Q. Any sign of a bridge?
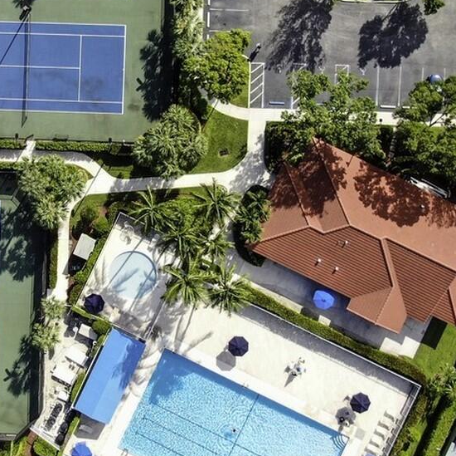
No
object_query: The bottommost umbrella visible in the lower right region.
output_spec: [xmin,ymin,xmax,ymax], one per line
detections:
[348,391,370,412]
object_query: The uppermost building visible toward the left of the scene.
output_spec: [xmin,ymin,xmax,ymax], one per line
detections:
[71,233,98,259]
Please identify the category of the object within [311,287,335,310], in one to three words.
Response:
umbrella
